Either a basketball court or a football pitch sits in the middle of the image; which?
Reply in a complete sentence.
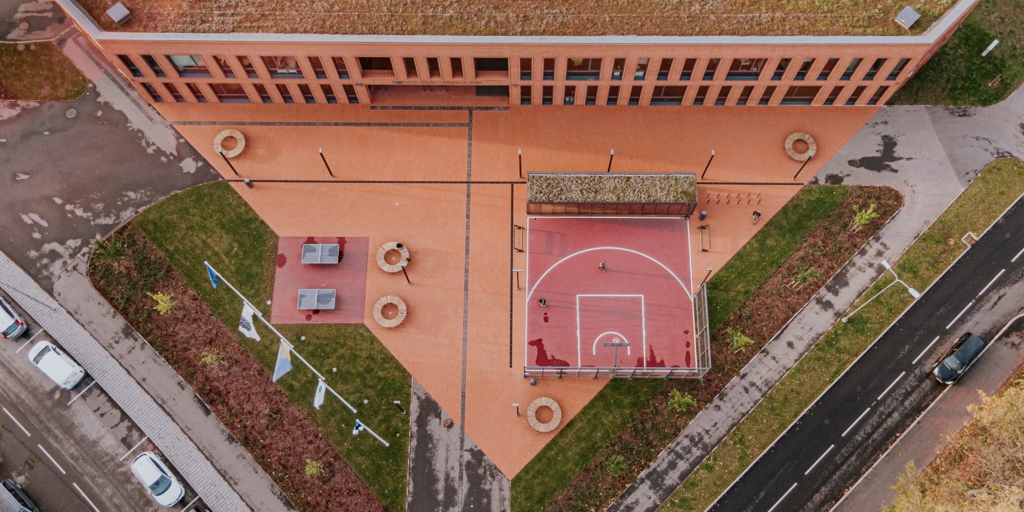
You can see a basketball court in the middle of the image.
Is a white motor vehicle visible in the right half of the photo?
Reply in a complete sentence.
No, in the right half of the photo there is no white motor vehicle.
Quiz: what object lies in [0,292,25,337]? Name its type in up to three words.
car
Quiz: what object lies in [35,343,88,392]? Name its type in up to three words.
vehicle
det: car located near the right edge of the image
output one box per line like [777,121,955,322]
[930,329,987,384]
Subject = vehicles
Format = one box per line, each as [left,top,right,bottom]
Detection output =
[0,478,47,512]
[0,292,25,337]
[35,343,88,392]
[133,452,186,506]
[930,329,987,384]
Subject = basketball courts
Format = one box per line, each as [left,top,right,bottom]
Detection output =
[525,216,700,377]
